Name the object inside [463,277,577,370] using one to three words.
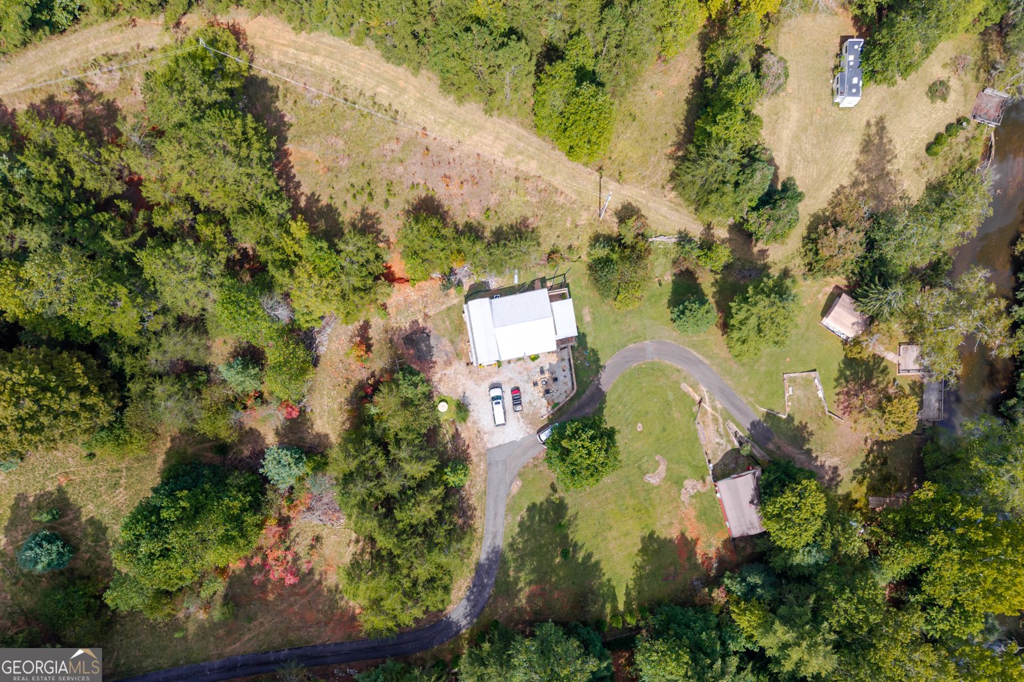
house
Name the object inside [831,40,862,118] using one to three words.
trailer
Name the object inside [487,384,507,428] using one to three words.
car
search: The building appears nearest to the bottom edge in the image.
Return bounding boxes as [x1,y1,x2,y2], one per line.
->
[713,470,767,540]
